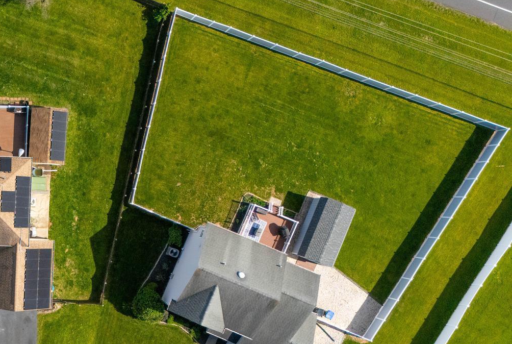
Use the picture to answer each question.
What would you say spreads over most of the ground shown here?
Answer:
grass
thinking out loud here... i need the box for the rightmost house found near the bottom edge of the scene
[159,223,321,344]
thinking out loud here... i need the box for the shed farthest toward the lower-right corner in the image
[291,196,355,268]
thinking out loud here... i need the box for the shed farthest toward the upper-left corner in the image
[30,108,68,165]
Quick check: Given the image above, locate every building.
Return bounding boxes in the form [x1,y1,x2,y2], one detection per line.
[0,156,54,312]
[291,196,355,268]
[159,223,321,344]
